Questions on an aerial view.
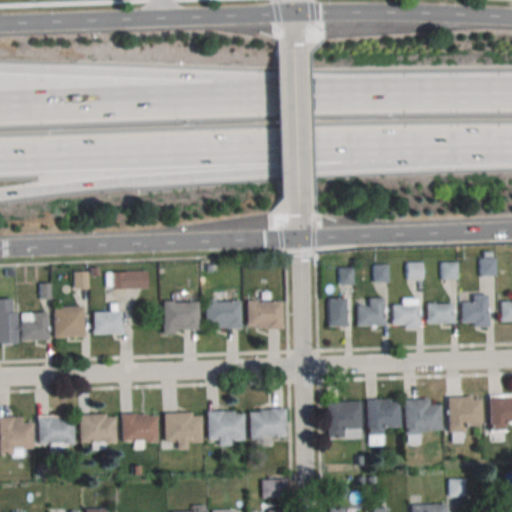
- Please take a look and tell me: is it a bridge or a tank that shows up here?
bridge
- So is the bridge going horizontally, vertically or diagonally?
vertically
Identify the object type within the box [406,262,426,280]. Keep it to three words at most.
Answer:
building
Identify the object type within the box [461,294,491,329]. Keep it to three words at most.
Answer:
house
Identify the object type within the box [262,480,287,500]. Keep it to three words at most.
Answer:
building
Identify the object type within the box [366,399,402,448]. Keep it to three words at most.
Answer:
house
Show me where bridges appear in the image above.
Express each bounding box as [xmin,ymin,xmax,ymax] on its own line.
[268,20,326,232]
